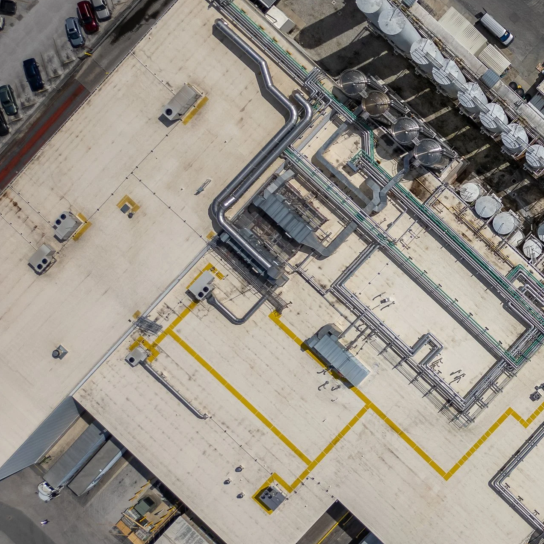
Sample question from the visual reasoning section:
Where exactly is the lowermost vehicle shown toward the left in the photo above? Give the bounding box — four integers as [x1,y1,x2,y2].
[36,474,76,503]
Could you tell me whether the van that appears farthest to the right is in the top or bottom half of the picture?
top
